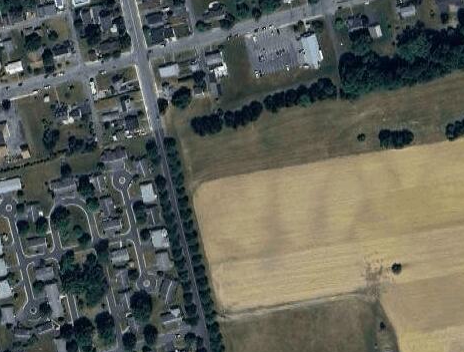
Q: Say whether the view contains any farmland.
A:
Yes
